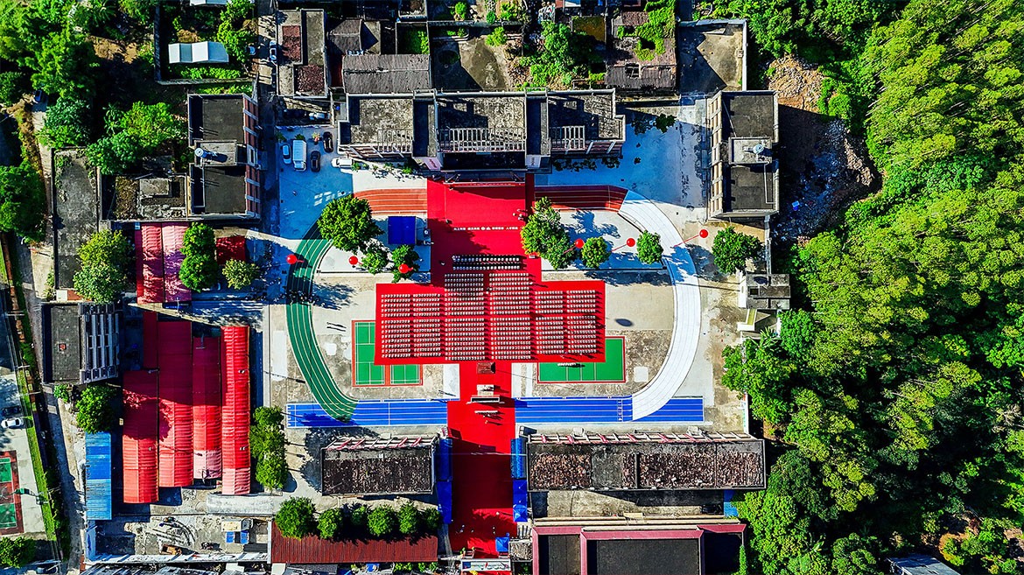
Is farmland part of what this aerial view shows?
No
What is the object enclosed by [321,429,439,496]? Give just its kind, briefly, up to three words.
building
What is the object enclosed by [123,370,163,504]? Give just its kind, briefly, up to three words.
shed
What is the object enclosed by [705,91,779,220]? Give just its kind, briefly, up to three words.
building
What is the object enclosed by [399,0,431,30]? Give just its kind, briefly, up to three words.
house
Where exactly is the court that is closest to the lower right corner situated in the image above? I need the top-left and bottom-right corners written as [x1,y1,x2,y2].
[537,336,626,383]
